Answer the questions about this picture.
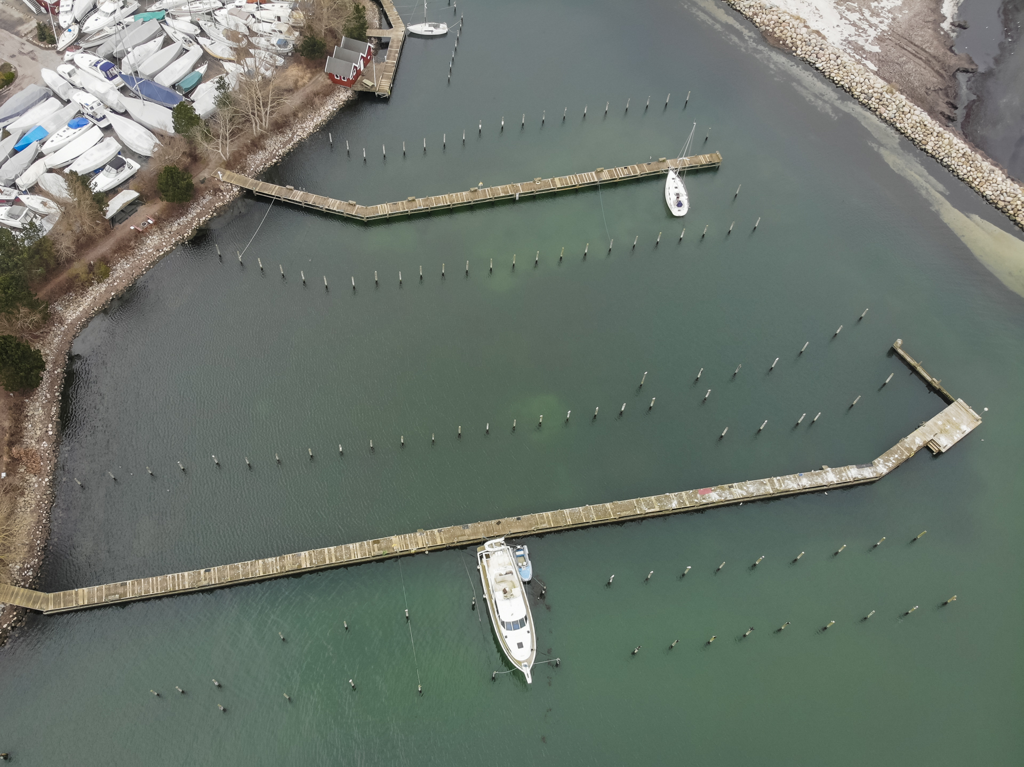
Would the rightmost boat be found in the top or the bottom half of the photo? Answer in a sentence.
It is in the top half that the rightmost boat appears.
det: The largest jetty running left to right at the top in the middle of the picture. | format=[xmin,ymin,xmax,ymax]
[212,150,722,224]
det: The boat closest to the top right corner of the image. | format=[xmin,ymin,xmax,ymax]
[664,126,692,219]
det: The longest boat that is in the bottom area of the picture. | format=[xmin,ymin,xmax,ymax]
[474,536,538,683]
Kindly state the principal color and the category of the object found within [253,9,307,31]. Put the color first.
white boat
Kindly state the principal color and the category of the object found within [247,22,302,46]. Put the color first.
white boat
